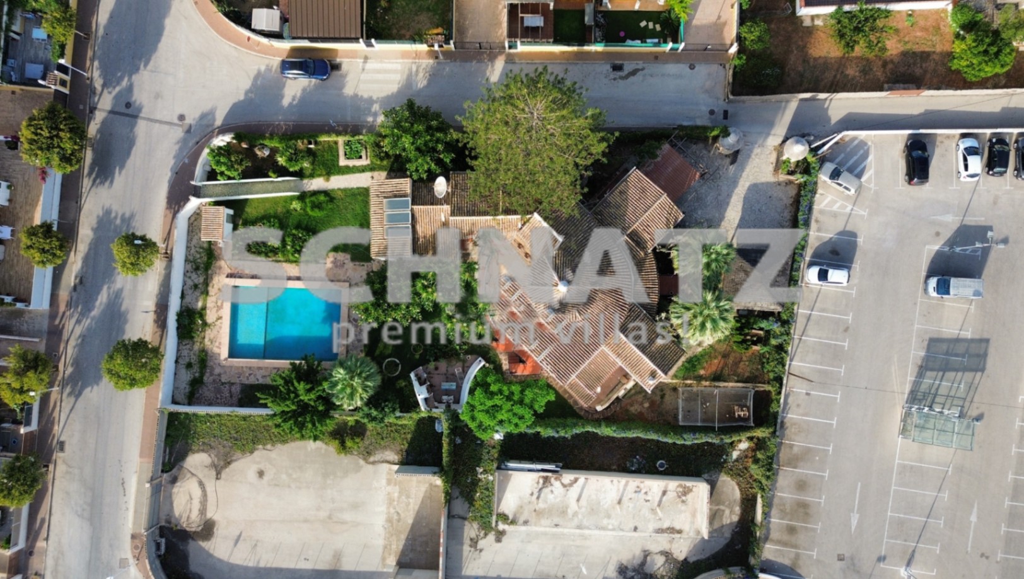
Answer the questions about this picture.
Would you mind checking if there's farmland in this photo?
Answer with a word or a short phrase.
No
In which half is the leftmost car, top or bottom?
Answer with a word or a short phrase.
top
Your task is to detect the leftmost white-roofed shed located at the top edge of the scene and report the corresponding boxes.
[252,8,282,36]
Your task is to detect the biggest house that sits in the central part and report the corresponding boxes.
[369,166,686,412]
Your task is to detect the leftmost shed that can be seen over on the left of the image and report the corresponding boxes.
[199,207,240,241]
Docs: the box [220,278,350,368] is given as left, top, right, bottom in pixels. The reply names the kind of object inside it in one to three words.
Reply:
swimming pool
